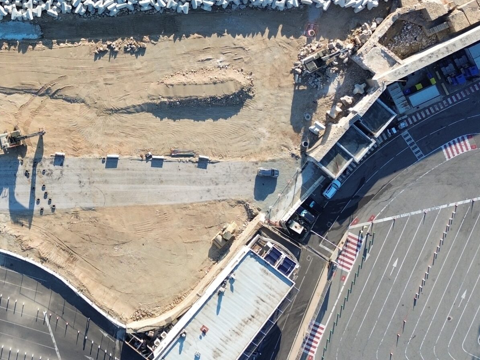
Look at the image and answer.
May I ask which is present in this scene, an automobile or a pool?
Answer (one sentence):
There is an automobile in the scene.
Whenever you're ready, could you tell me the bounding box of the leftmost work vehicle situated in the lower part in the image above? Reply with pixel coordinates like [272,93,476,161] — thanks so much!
[212,222,235,250]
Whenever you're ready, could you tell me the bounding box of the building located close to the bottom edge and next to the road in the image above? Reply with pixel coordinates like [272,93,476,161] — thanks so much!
[153,232,301,360]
